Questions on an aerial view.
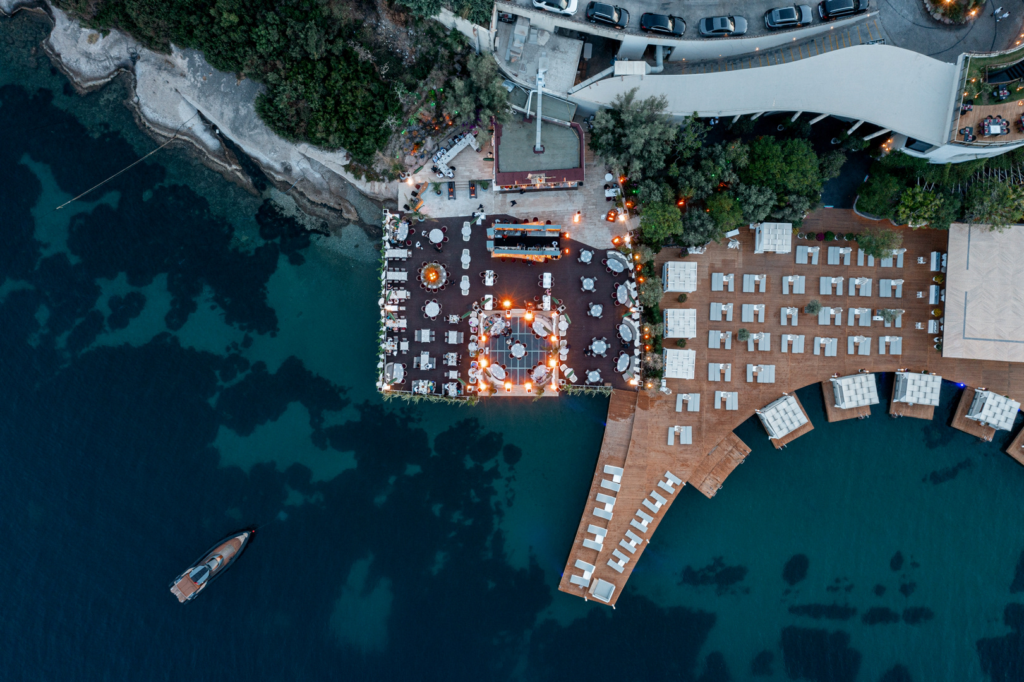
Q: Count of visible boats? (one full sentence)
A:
I count 1 boat.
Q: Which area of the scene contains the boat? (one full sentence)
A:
The boat appears toward the bottom left of the photo.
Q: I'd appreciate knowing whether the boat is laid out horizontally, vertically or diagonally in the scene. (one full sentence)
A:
The boat has been laid out diagonally relative to the frame.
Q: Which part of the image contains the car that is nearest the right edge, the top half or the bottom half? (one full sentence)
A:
Seen from above, the car that is nearest the right edge lies in the top half of the view.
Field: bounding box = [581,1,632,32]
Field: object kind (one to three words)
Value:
car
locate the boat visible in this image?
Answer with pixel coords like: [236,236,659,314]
[164,531,253,604]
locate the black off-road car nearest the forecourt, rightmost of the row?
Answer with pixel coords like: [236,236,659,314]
[814,0,868,24]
